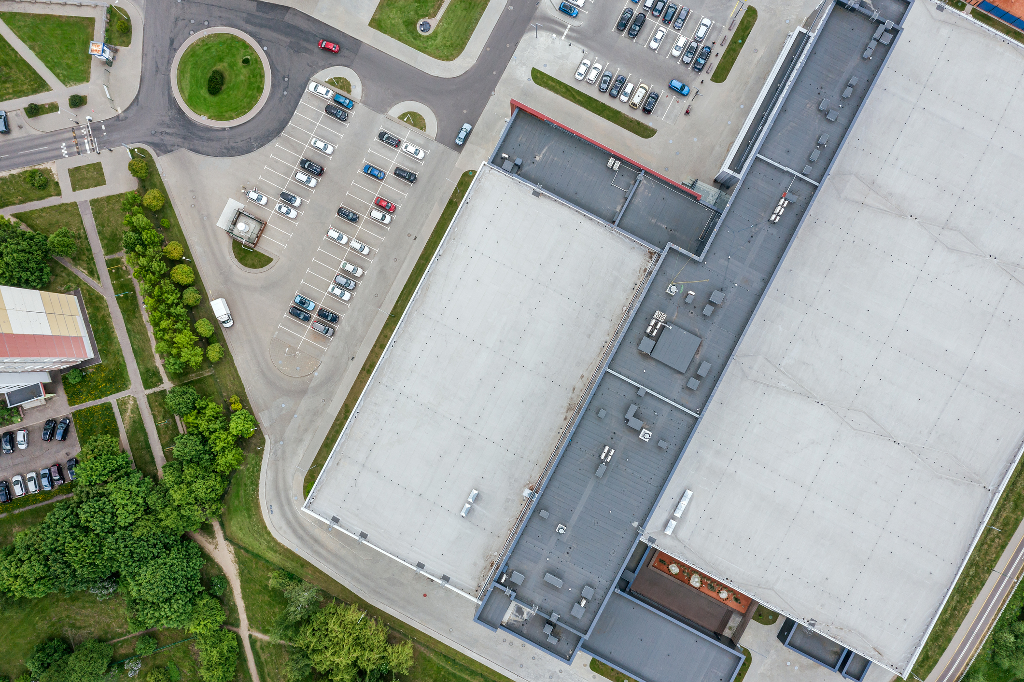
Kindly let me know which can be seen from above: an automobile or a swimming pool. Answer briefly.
automobile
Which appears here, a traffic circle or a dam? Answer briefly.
traffic circle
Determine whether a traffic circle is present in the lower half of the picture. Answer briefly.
No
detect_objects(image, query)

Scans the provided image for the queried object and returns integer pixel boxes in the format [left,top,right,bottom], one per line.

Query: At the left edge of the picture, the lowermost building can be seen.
[0,287,94,410]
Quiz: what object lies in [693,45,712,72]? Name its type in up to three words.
car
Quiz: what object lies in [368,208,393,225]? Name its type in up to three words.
car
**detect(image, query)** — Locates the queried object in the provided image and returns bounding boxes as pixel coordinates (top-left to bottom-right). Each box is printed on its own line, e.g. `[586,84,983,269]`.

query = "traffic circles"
[171,27,270,126]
